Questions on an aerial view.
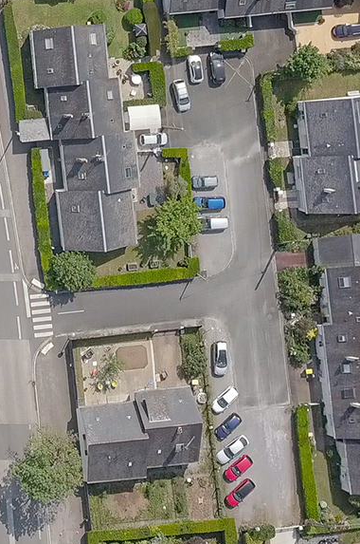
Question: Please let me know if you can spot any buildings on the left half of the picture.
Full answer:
Yes, you'll find a building on the left half of the picture.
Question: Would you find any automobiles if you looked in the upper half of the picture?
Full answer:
Yes, an automobile shows up in the upper half of the picture.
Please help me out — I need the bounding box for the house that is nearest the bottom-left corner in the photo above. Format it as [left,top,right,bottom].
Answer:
[77,401,148,484]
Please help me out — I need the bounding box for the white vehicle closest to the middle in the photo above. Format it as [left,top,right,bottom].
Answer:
[195,216,231,232]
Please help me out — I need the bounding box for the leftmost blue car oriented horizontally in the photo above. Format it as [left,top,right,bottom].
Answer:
[193,197,225,212]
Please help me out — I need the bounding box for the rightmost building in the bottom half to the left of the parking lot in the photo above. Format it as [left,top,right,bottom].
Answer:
[130,384,202,468]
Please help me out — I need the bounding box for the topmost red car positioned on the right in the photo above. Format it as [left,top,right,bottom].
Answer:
[223,454,253,481]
